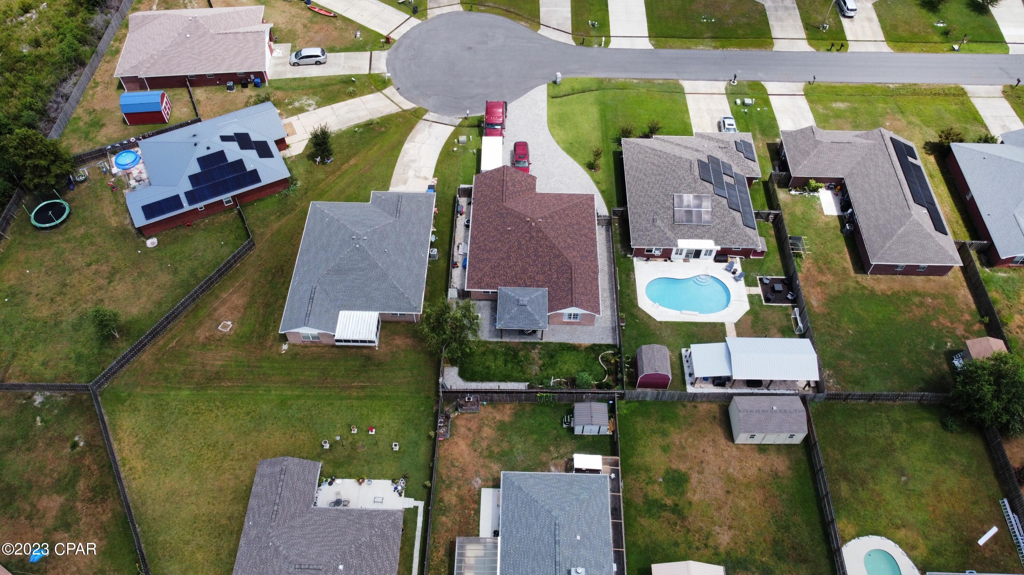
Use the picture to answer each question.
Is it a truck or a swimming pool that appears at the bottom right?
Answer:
swimming pool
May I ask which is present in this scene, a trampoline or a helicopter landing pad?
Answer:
trampoline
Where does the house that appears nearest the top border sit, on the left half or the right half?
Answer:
left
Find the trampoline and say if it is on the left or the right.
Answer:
left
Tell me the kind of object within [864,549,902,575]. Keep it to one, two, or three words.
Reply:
swimming pool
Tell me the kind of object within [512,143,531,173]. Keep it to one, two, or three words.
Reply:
car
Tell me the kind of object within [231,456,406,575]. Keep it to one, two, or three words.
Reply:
house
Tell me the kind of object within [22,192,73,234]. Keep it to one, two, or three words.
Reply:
trampoline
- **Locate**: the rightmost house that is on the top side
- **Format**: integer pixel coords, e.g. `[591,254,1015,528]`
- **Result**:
[945,128,1024,273]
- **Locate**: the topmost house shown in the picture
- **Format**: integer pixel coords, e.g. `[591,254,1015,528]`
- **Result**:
[113,5,274,92]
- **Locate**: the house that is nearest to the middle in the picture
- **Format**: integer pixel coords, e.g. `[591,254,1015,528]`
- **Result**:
[464,164,602,325]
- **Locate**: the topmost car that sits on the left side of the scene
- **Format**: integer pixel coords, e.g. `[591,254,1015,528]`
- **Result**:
[289,47,328,66]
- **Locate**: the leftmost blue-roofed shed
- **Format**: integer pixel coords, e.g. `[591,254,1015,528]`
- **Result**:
[119,94,171,125]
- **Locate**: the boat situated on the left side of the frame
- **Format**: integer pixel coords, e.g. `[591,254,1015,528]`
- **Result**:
[307,2,337,16]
